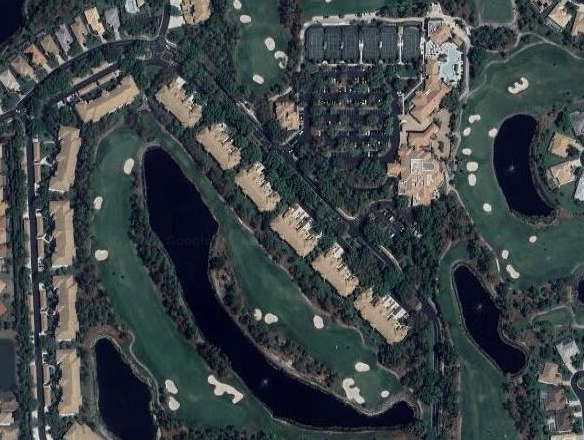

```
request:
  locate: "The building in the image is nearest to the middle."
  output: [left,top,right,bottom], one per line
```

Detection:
[271,206,322,257]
